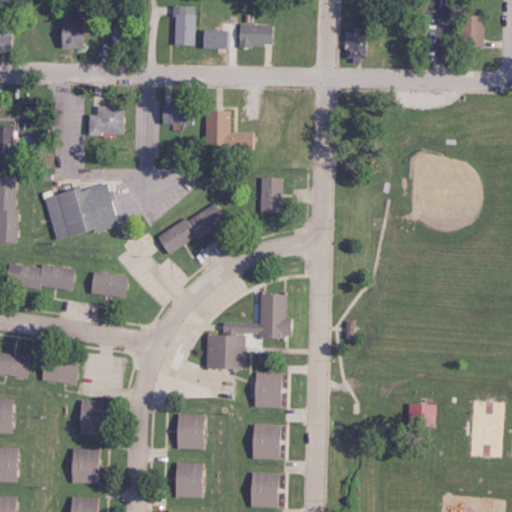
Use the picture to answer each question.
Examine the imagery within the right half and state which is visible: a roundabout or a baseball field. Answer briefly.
baseball field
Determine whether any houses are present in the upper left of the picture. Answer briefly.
Yes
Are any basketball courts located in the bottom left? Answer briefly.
No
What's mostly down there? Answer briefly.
grass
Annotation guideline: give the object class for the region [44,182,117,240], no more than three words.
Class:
building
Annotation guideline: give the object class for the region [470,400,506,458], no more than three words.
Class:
basketball court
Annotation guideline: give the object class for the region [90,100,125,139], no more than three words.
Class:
house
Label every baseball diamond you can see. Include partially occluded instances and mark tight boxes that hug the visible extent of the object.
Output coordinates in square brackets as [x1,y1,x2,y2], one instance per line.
[403,150,484,232]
